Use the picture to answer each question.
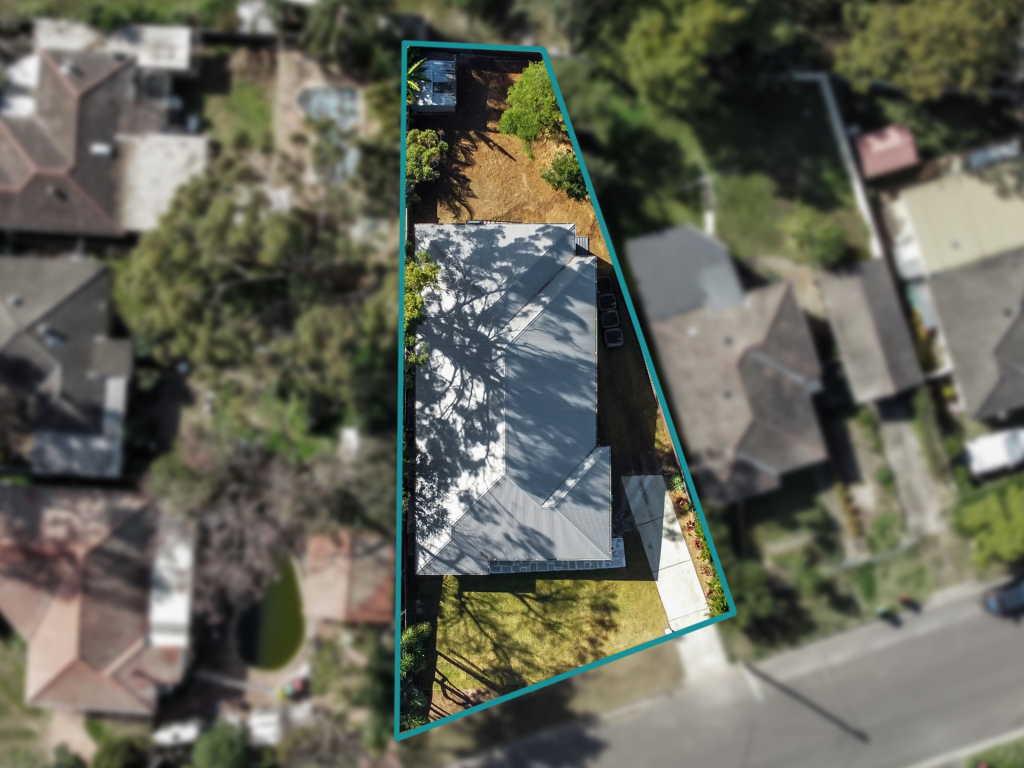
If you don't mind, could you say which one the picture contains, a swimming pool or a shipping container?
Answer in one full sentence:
Of the two, only a swimming pool appears.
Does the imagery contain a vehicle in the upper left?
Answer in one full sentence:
No, there is no vehicle in the upper left.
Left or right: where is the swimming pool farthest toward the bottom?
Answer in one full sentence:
The swimming pool farthest toward the bottom sits on the left side.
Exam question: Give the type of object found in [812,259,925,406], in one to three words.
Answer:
building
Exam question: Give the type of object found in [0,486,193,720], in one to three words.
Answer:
house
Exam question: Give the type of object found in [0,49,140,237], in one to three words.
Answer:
house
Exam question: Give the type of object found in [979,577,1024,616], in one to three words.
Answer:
car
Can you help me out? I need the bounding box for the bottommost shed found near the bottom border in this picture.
[252,700,291,751]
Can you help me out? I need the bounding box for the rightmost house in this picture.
[928,246,1024,420]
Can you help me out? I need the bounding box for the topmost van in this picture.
[954,429,1024,475]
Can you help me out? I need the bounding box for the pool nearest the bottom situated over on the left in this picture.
[230,548,308,673]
